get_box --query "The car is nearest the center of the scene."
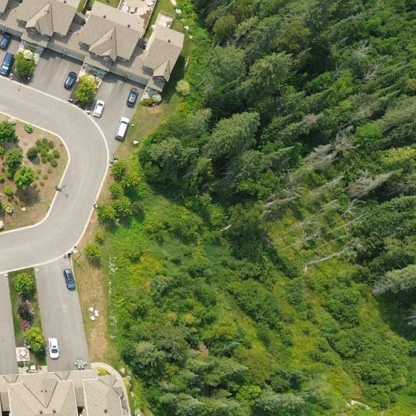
[114,118,130,140]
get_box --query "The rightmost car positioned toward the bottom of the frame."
[63,268,77,291]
